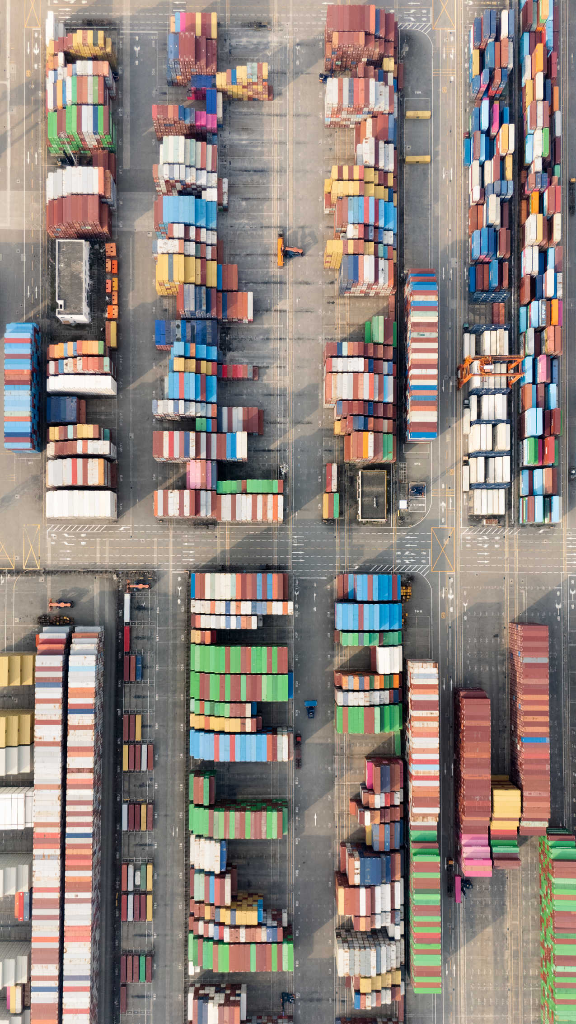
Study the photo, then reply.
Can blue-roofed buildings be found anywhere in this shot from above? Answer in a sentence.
No, there's no blue-roofed building here.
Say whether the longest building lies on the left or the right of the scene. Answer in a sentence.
The longest building sits on the left side.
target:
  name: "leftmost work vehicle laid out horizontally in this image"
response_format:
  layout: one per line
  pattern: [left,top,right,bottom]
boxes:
[46,598,73,611]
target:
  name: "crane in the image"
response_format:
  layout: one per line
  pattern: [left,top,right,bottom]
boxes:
[457,354,528,391]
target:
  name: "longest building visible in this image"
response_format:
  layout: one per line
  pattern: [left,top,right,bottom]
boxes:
[56,240,91,323]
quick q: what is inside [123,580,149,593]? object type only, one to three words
vehicle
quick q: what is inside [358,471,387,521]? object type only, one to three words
building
